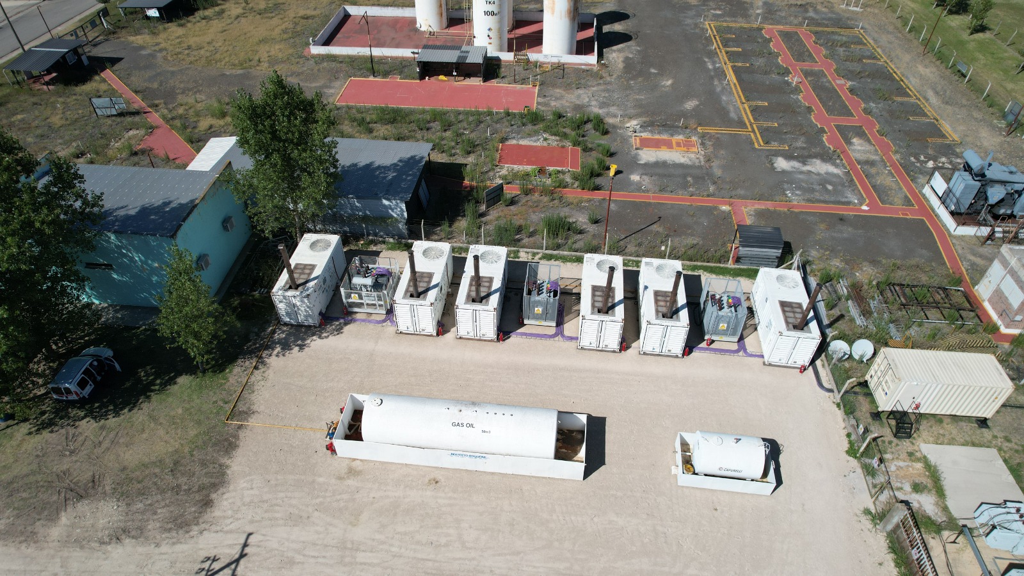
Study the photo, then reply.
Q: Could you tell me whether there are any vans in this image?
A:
Yes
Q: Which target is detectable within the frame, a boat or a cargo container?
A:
cargo container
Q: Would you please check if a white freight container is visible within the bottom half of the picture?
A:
Yes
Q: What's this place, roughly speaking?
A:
industrial area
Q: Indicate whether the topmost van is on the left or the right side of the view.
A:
left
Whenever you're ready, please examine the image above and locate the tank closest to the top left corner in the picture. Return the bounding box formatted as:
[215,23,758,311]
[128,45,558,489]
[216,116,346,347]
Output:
[417,0,455,30]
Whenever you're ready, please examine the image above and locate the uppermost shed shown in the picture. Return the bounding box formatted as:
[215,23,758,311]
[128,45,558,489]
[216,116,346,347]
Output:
[118,0,181,28]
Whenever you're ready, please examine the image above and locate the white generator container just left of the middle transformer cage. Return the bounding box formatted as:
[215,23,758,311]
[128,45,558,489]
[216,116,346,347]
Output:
[455,245,507,344]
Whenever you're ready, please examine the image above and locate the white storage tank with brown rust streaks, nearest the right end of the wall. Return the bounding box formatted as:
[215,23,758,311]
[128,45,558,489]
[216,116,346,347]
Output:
[542,0,580,55]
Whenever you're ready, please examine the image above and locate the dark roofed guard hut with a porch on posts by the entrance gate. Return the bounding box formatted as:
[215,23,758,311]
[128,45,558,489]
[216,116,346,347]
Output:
[3,38,91,92]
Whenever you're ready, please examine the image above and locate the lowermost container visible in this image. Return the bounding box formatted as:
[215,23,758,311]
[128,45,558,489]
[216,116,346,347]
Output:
[857,347,1015,430]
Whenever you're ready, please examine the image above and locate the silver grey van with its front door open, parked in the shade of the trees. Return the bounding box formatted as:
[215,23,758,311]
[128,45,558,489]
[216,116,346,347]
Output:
[50,342,124,404]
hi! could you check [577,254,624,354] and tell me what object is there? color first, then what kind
white shipping container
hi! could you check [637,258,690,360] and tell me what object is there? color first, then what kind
white shipping container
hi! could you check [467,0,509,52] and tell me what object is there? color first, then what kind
white storage tank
